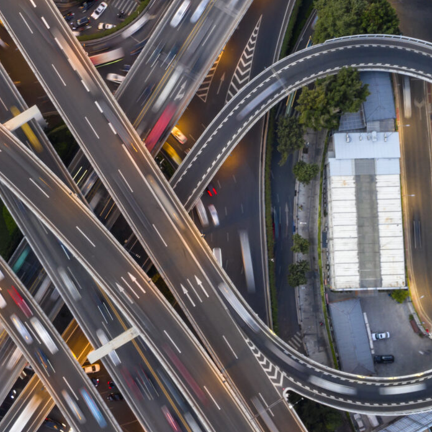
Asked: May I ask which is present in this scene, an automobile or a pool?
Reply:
automobile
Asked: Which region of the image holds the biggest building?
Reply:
right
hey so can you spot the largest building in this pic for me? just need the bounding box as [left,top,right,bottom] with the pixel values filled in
[323,160,409,290]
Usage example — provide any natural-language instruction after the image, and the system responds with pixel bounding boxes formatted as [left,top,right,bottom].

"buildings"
[324,299,374,374]
[323,160,409,290]
[357,71,395,122]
